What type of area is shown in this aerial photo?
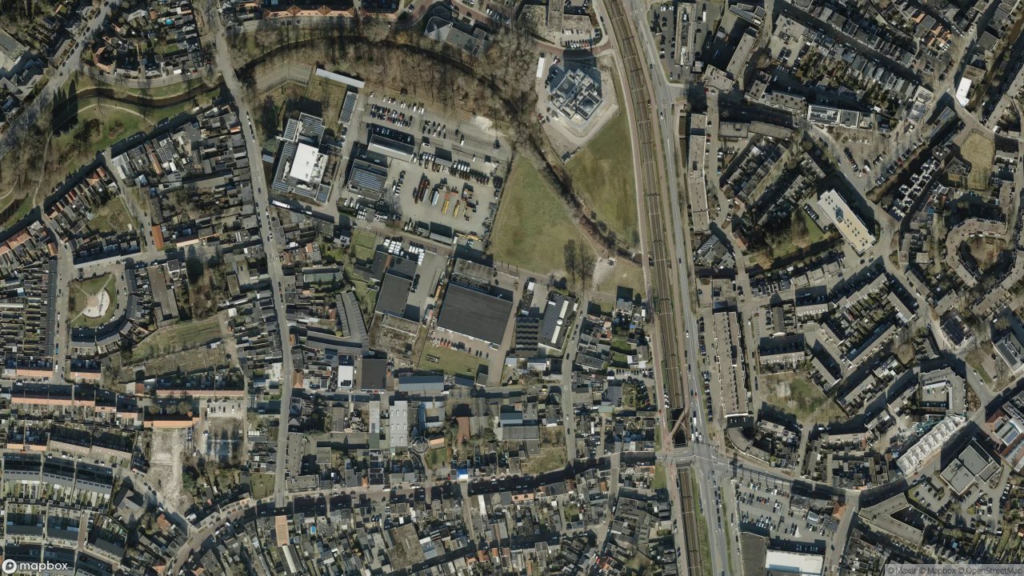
residential area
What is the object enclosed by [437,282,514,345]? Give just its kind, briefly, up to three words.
building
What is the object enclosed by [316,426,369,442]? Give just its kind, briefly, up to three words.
shed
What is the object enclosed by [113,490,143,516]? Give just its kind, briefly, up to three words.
building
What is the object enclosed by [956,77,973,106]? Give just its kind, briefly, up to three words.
house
